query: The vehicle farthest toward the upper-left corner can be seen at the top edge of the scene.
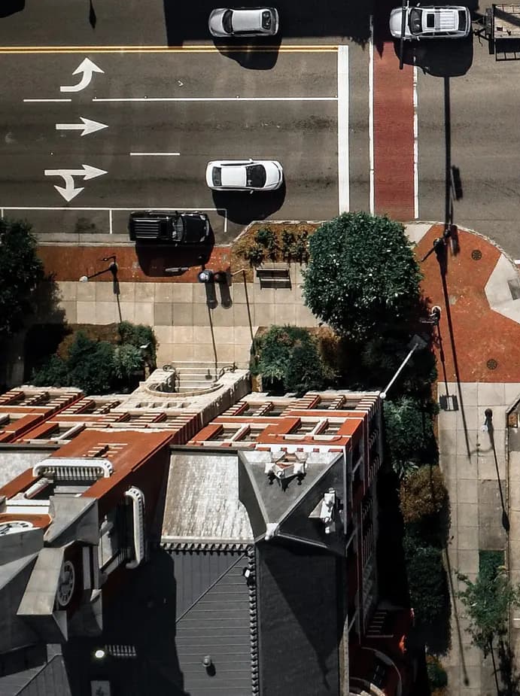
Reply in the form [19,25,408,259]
[209,4,280,41]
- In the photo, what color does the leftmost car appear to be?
black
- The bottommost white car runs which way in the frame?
from left to right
